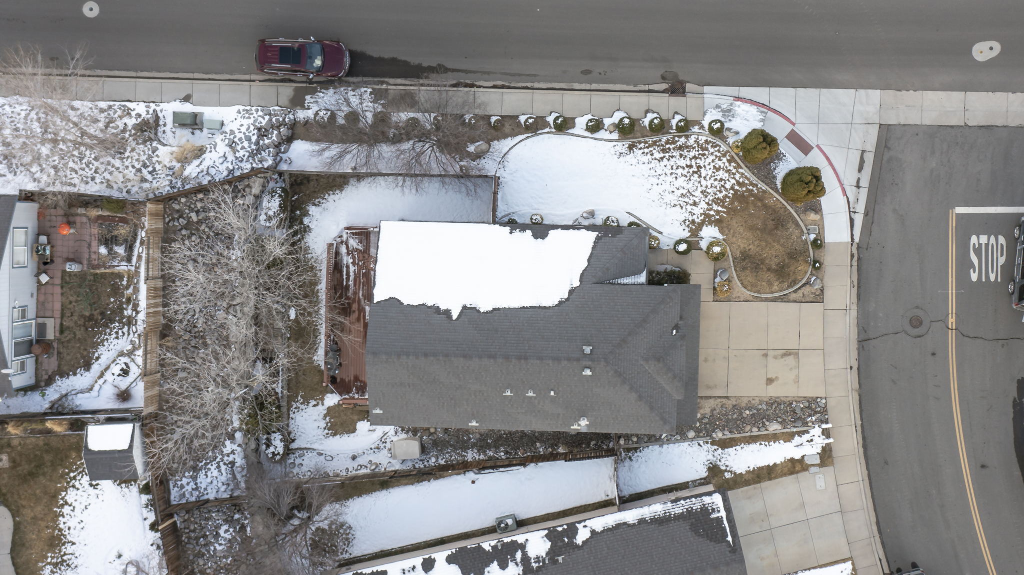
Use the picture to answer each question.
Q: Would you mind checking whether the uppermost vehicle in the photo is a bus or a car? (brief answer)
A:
car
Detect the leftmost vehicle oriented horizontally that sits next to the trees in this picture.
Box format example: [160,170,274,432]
[254,34,351,83]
